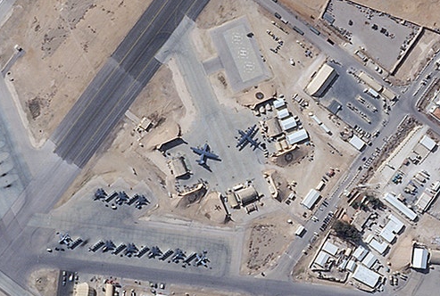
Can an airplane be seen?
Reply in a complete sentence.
Yes, the frame does contain an airplane.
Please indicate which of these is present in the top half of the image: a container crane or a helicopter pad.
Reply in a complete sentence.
Looking in the top half of the image, you will find a helicopter pad.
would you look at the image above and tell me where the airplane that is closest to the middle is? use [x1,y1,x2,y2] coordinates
[193,145,218,166]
